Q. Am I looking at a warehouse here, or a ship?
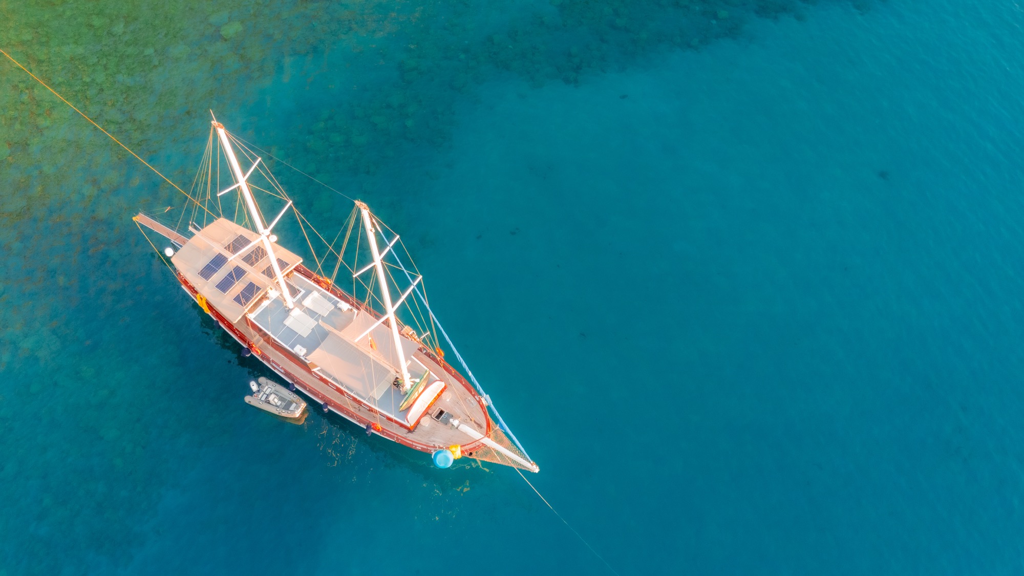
ship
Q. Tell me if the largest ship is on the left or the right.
left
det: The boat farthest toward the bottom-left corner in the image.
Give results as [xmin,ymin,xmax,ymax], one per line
[245,379,305,419]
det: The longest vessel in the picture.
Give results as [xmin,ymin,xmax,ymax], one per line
[136,107,538,471]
